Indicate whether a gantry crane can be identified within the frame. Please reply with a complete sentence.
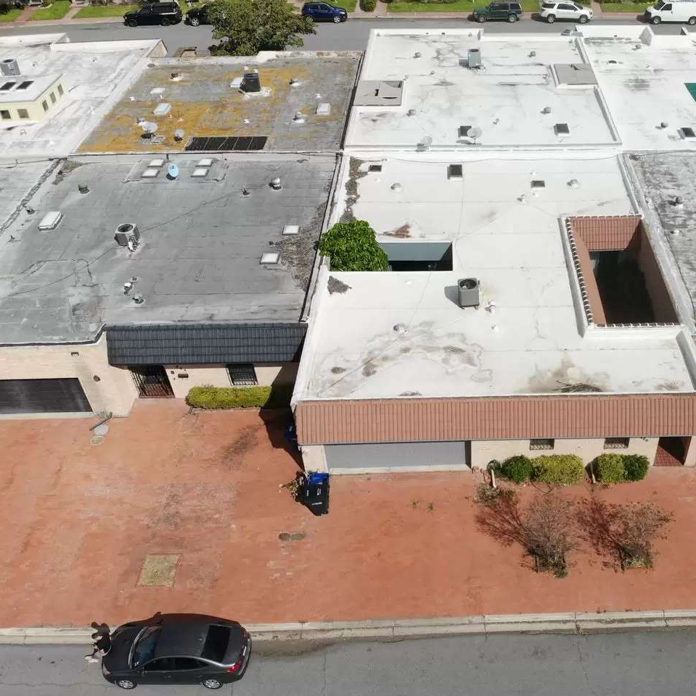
No, there isn't any gantry crane down there.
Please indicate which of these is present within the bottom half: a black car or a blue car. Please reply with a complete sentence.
It is a black car that can be seen within the bottom half.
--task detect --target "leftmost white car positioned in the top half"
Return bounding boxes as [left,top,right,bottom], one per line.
[540,0,592,22]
